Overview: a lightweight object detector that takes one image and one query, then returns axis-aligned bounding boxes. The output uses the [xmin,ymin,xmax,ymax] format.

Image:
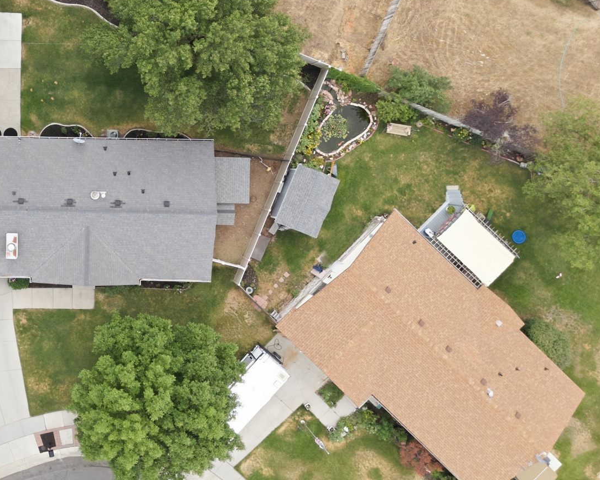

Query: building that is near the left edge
[0,134,218,287]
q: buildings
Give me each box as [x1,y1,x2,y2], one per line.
[272,164,339,237]
[0,134,218,287]
[268,207,587,480]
